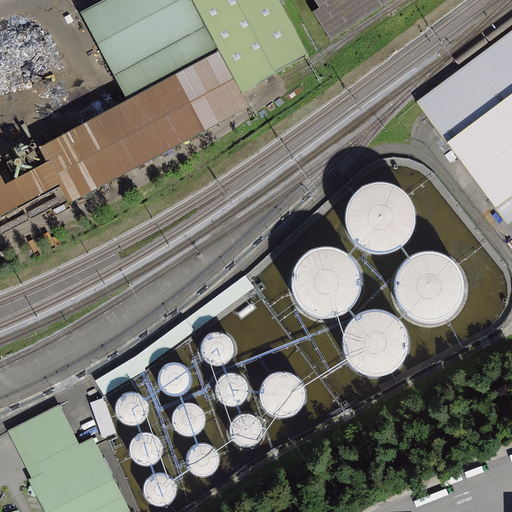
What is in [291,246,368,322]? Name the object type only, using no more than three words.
storage tank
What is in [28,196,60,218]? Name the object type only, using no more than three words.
rail car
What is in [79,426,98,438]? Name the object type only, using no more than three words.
vehicle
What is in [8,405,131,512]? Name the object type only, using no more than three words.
building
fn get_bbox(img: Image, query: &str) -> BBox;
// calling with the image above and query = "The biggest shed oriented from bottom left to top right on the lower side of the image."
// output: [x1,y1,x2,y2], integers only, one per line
[96,274,253,394]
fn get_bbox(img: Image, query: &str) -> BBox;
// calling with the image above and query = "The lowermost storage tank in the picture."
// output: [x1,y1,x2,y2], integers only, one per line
[142,470,182,508]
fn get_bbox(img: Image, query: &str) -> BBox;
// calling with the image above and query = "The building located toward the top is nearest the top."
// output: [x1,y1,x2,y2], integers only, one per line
[313,0,404,41]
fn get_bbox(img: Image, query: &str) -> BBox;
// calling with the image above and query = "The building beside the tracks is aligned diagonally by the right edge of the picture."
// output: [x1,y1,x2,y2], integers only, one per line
[417,32,512,142]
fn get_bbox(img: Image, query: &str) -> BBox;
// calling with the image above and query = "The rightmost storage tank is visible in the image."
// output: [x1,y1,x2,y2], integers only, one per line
[392,252,470,329]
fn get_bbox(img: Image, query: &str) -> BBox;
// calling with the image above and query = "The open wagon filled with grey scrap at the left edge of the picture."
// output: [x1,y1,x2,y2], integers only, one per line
[0,212,30,234]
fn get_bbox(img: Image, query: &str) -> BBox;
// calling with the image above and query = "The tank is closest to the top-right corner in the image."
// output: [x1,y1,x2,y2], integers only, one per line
[344,182,420,258]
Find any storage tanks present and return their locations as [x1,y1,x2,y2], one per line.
[172,400,210,439]
[142,470,182,508]
[392,252,470,329]
[128,430,168,468]
[342,308,414,380]
[291,246,368,322]
[228,412,268,450]
[214,371,254,409]
[344,182,420,258]
[258,370,310,420]
[158,360,197,398]
[186,441,224,480]
[113,390,154,428]
[200,330,239,368]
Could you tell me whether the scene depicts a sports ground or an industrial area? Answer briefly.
industrial area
